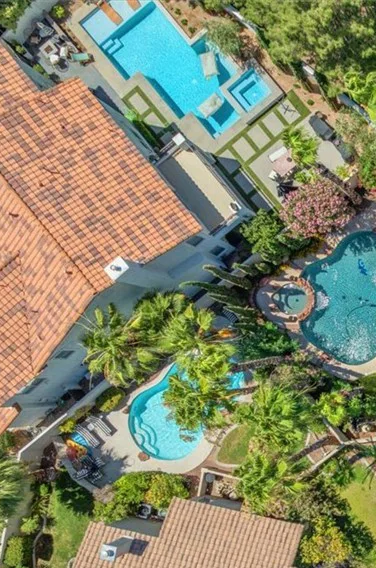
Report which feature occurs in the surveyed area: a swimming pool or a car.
swimming pool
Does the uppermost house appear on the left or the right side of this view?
left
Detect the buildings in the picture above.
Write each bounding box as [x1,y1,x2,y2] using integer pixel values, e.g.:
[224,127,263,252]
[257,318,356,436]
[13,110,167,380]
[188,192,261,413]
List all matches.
[69,496,306,568]
[0,42,256,440]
